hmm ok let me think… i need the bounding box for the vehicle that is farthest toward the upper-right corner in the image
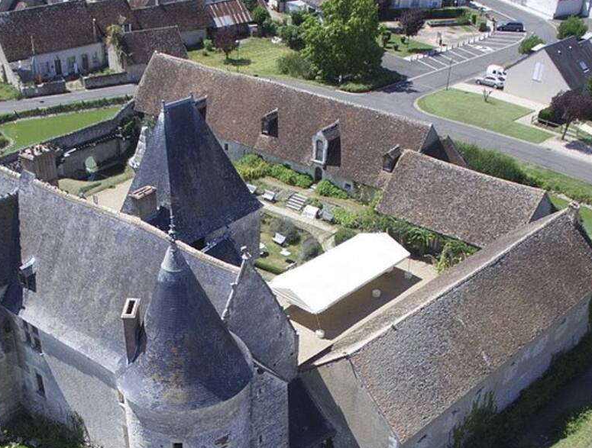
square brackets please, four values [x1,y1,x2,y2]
[496,18,526,32]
